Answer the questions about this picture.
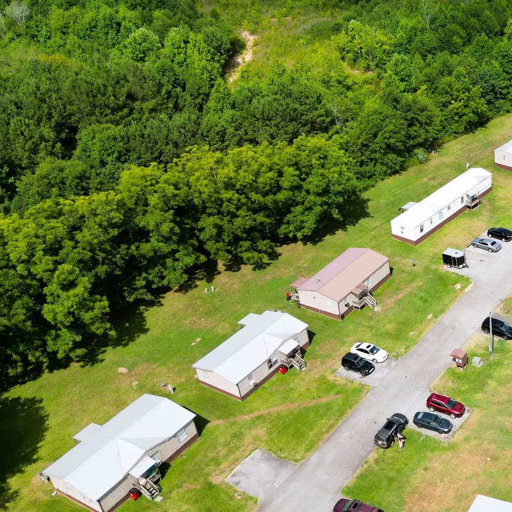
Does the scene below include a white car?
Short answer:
Yes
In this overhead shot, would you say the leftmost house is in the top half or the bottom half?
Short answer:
bottom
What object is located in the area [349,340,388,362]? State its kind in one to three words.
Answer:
car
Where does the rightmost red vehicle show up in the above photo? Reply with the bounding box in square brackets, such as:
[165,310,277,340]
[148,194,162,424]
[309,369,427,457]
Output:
[424,391,467,419]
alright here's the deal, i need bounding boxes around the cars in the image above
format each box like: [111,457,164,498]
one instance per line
[485,225,512,241]
[481,315,512,339]
[373,411,409,450]
[338,348,377,376]
[331,497,383,512]
[410,410,455,435]
[349,340,388,362]
[424,391,467,419]
[470,237,502,253]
